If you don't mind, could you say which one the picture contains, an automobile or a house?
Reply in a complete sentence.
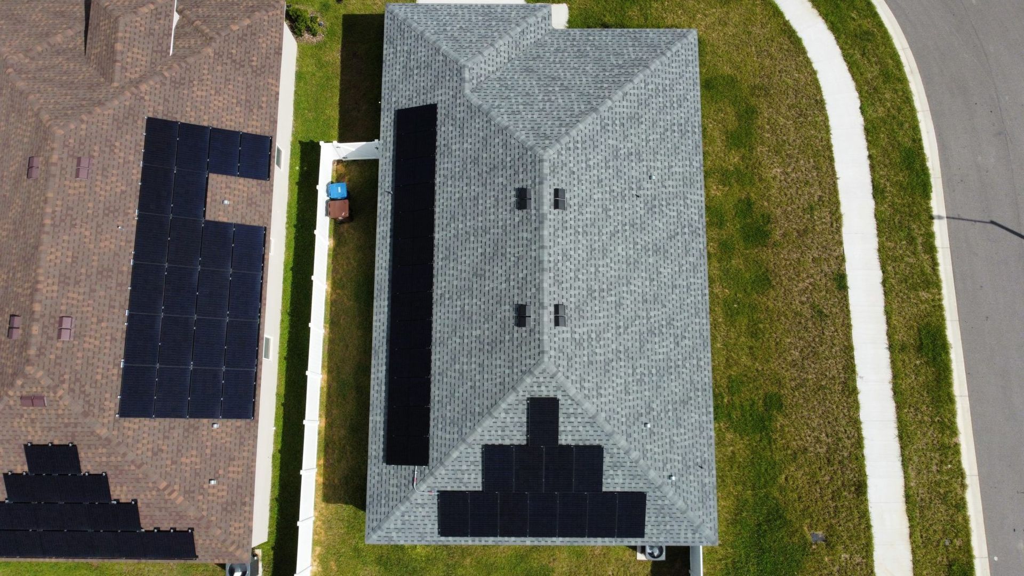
The one in the frame is a house.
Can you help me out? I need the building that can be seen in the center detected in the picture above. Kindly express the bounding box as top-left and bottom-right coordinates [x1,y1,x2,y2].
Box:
[365,2,719,547]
